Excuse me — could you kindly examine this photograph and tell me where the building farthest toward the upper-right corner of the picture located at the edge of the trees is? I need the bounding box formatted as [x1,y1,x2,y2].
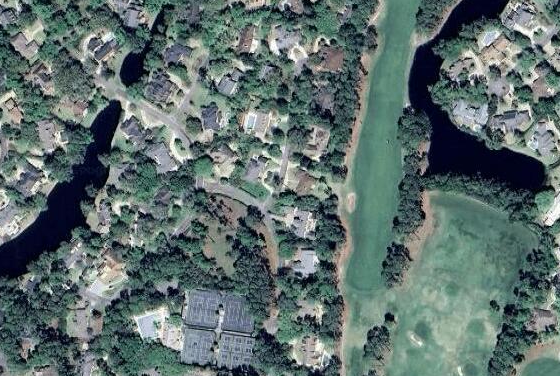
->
[507,4,539,35]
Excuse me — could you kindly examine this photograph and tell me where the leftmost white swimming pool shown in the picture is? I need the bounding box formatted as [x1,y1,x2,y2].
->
[134,307,169,343]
